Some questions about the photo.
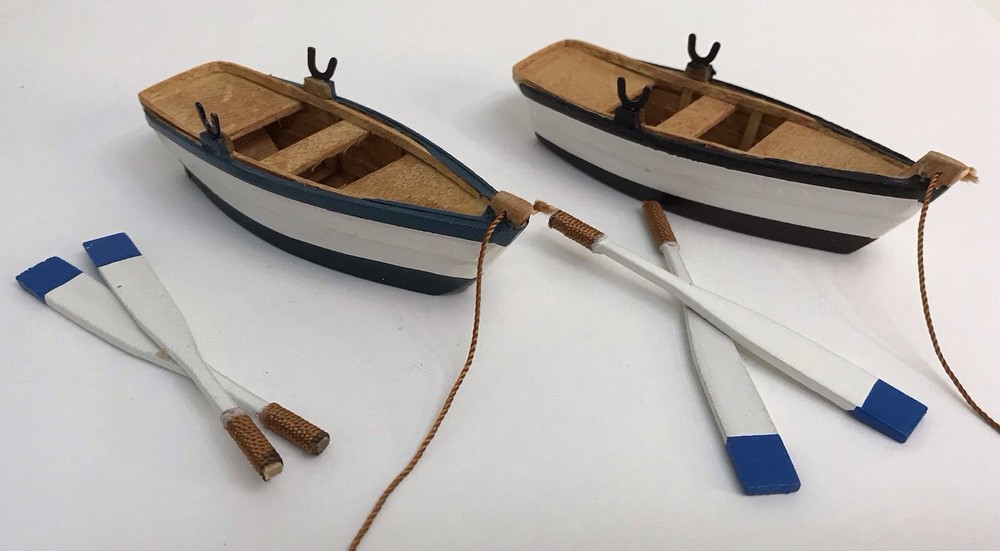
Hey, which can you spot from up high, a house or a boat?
boat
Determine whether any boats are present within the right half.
Yes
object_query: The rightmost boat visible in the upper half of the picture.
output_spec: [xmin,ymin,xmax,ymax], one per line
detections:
[512,34,979,250]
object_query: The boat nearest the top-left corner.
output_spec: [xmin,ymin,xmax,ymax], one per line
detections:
[140,47,564,290]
